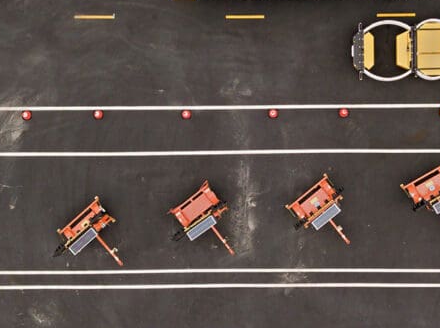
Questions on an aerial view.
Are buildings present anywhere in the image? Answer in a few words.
No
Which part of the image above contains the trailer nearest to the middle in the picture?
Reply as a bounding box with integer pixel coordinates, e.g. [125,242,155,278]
[167,178,235,253]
